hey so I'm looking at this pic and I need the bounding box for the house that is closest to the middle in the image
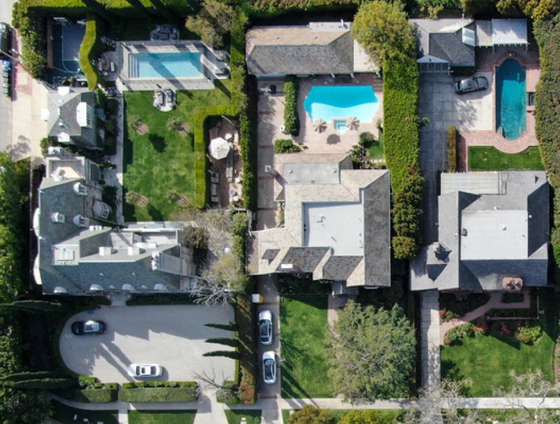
[250,153,393,295]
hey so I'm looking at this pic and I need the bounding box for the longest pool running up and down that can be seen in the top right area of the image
[494,57,528,142]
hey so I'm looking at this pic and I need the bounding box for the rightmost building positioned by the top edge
[476,18,528,53]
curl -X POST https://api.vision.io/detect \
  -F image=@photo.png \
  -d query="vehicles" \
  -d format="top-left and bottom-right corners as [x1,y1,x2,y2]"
[257,310,274,344]
[455,75,489,93]
[129,363,164,378]
[71,320,107,335]
[0,24,12,60]
[260,351,278,384]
